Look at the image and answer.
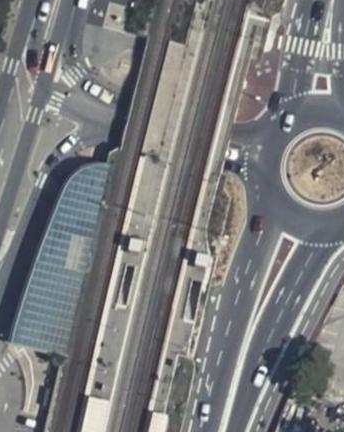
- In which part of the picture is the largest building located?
left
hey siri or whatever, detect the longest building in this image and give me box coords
[10,160,108,354]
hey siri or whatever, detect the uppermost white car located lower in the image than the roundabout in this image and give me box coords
[254,366,269,388]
